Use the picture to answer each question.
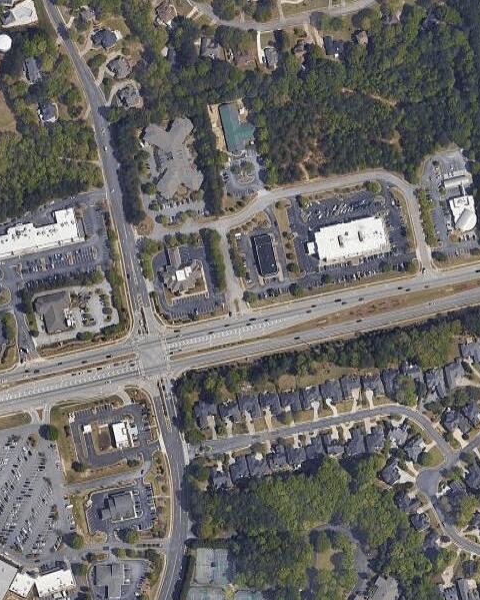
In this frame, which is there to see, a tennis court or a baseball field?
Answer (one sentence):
There is a tennis court in the scene.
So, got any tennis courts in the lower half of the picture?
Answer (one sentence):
Yes, in the lower half of the picture there is a tennis court.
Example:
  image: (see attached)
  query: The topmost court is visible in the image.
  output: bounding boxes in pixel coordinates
[194,547,229,584]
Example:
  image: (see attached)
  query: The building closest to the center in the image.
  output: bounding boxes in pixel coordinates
[252,235,278,276]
